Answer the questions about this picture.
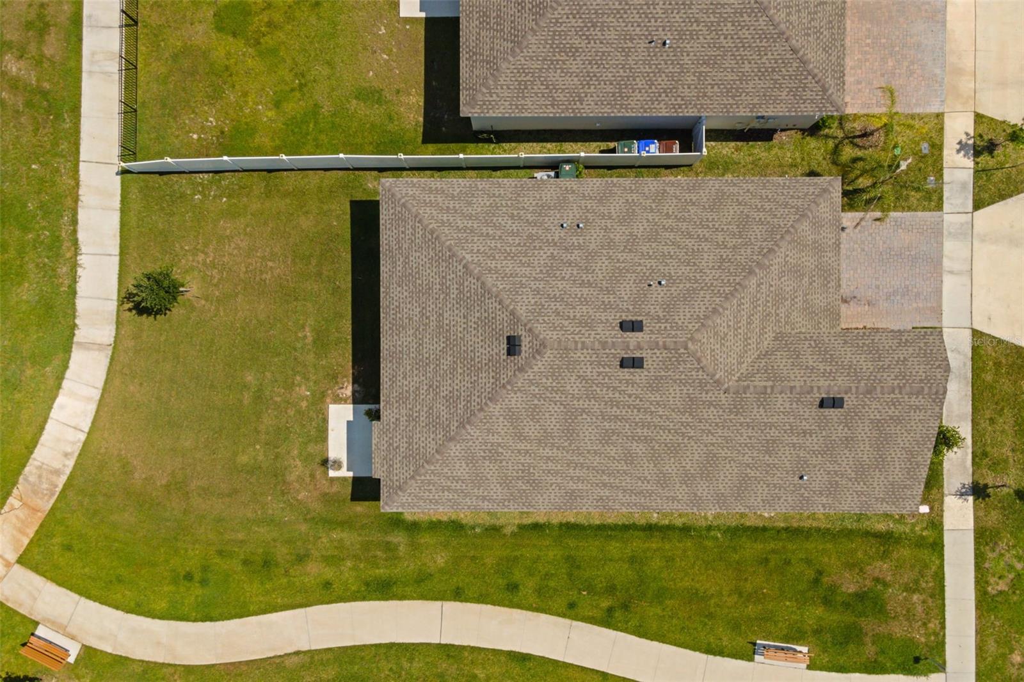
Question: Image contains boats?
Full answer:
No, this view has no boat in it.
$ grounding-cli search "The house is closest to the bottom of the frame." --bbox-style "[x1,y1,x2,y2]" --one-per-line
[372,177,950,512]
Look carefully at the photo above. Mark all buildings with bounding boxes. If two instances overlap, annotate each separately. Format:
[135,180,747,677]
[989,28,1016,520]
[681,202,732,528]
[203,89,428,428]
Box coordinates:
[372,177,950,512]
[460,0,845,136]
